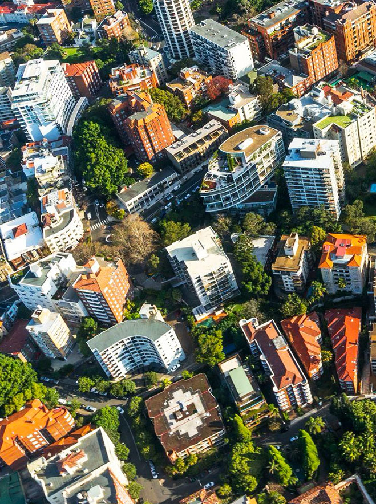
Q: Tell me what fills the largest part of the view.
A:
buildings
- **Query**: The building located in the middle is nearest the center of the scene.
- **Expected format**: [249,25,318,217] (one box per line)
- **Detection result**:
[165,227,241,311]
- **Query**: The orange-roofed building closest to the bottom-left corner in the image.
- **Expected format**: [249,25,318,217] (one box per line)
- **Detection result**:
[0,397,94,482]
